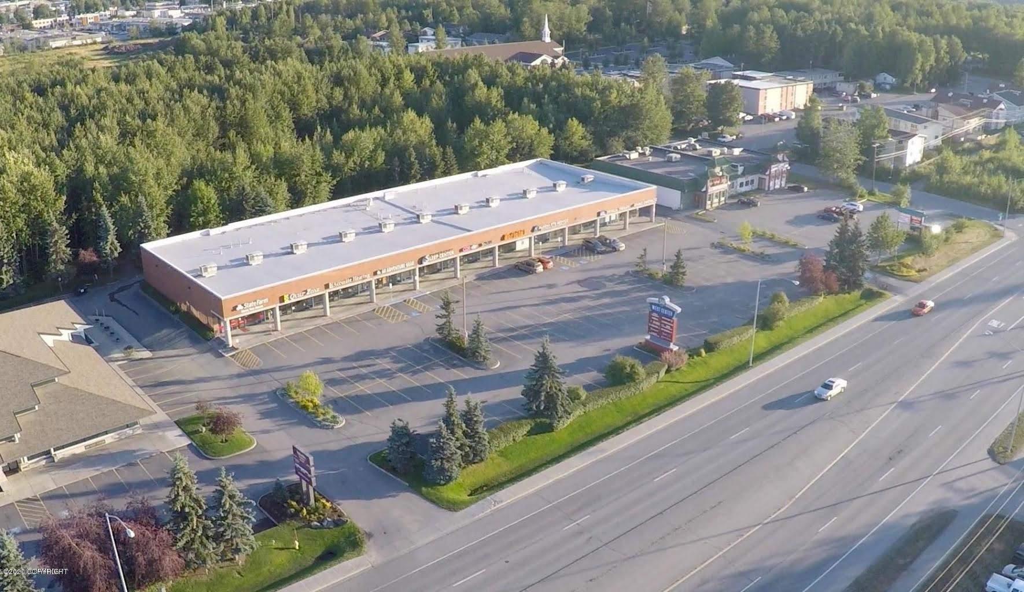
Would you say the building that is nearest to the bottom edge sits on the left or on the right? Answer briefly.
left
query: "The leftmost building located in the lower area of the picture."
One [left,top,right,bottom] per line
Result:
[0,299,157,487]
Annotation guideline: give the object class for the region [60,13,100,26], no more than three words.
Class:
building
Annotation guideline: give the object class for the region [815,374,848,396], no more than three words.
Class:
car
